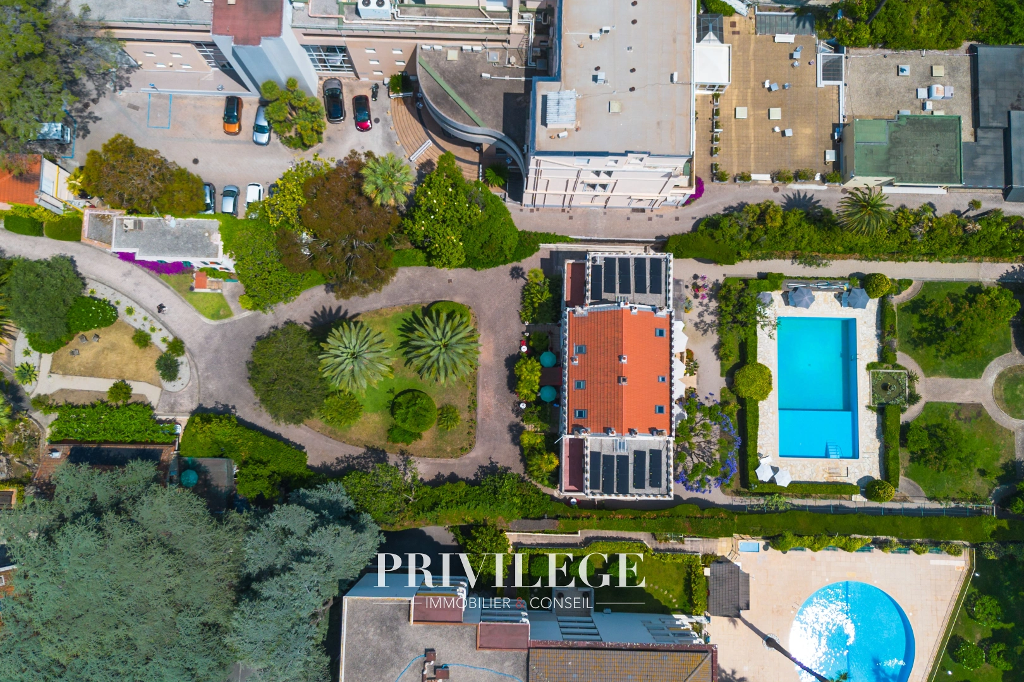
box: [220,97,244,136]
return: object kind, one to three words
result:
car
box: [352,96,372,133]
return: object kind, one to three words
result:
car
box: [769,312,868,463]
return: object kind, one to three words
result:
swimming pool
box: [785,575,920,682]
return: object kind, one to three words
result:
swimming pool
